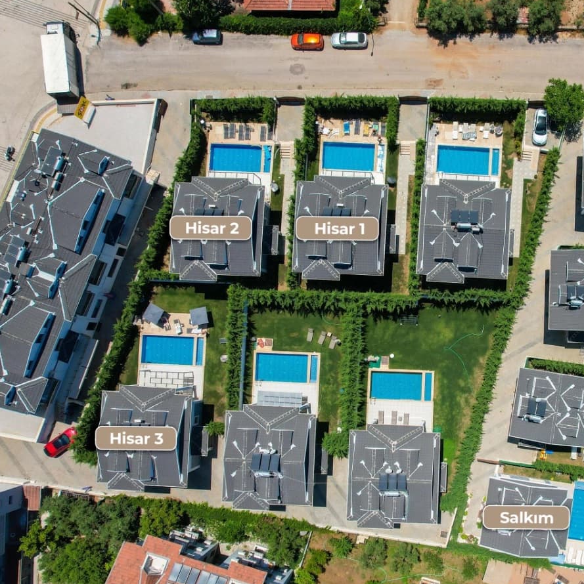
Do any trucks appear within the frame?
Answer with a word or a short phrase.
Yes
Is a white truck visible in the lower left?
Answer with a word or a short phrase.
No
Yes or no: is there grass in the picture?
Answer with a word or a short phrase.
Yes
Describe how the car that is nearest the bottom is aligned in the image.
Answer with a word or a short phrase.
diagonally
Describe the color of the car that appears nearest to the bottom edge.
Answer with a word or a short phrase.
red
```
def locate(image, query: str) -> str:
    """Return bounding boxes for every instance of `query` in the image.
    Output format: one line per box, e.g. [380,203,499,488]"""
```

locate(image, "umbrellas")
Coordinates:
[188,306,221,327]
[140,301,176,327]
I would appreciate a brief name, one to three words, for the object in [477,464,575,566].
house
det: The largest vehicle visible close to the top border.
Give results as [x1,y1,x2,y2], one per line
[41,20,83,102]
